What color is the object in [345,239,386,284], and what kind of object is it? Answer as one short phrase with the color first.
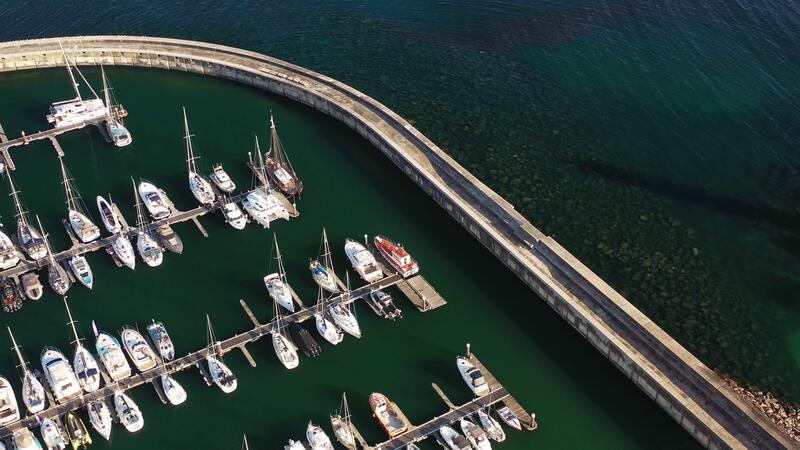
white boat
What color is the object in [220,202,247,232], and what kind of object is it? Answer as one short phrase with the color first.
white boat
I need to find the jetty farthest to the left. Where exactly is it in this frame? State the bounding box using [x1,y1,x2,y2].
[0,115,113,171]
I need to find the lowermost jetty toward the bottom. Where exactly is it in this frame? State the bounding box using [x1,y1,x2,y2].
[348,352,537,450]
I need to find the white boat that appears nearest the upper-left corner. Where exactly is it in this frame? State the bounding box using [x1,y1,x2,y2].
[47,38,110,130]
